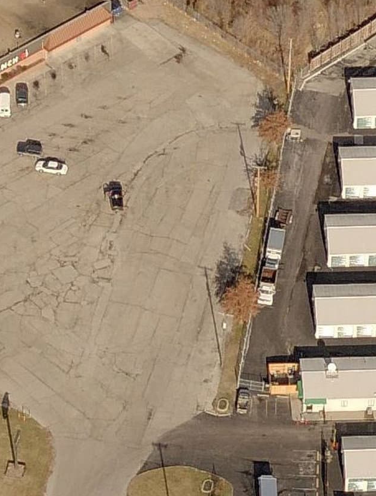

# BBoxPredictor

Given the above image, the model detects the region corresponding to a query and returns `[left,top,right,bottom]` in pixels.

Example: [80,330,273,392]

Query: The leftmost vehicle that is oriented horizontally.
[15,142,46,157]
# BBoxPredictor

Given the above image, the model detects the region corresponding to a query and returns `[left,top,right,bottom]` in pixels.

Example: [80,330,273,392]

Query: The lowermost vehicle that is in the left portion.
[105,182,126,208]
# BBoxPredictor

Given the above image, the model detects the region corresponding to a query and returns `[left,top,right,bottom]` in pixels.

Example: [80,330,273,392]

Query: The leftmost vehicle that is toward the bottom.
[235,386,250,411]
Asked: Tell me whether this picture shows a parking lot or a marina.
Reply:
parking lot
